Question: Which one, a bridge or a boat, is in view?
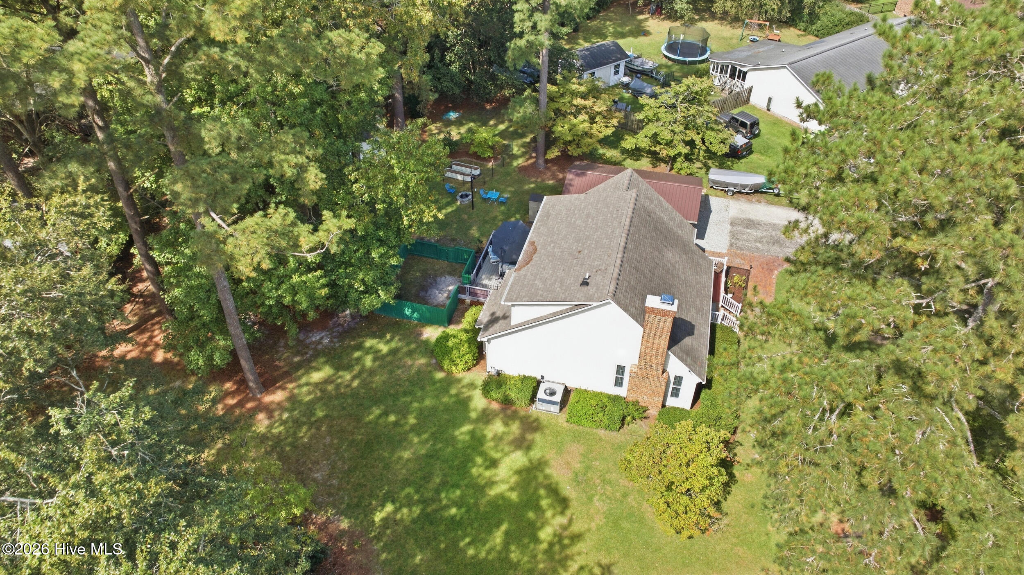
boat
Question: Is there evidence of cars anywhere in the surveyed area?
Yes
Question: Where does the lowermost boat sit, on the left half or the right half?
right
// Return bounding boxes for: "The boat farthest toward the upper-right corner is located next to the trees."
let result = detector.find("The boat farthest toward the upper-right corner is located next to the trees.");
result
[708,169,782,189]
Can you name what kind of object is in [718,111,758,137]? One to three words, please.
car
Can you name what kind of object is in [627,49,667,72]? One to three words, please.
boat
